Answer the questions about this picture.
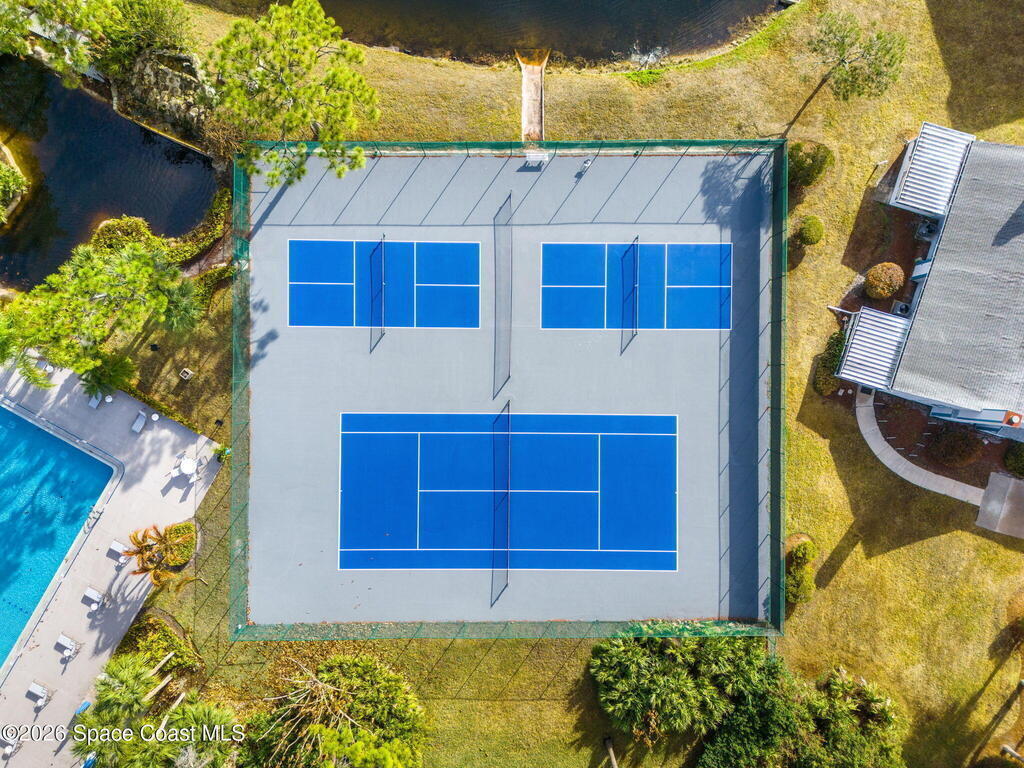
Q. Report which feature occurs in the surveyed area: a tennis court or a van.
tennis court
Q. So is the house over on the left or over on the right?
right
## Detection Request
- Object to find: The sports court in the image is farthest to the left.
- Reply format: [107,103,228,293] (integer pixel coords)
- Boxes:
[289,240,480,328]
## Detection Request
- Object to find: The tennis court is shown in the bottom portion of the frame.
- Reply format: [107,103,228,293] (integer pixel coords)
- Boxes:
[339,413,678,572]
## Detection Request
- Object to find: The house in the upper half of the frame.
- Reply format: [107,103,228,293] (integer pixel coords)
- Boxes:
[834,120,1024,453]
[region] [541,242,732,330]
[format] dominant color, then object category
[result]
blue sports court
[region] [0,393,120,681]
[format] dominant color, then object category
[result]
blue swimming pool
